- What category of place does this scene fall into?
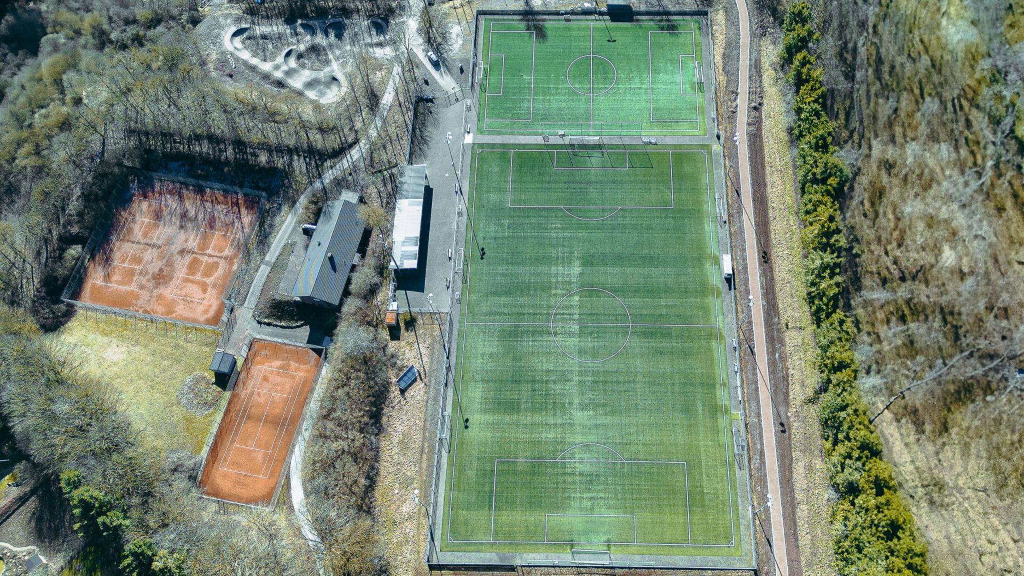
sports ground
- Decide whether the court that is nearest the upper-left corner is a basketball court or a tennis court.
tennis court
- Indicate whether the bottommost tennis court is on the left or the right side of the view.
left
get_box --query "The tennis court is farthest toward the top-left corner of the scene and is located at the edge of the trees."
[66,170,265,328]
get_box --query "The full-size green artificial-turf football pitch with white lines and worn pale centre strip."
[440,144,742,557]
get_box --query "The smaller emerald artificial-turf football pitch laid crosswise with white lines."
[477,18,707,136]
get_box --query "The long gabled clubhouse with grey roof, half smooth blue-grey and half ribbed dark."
[291,194,373,309]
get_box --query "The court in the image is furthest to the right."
[199,336,323,508]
